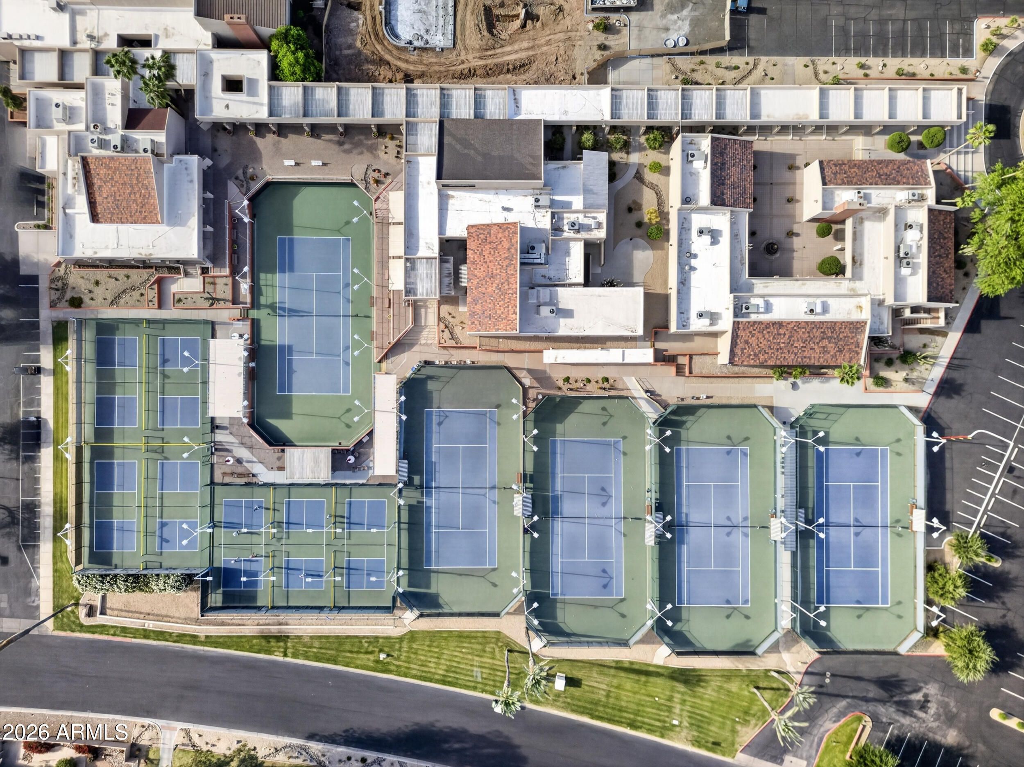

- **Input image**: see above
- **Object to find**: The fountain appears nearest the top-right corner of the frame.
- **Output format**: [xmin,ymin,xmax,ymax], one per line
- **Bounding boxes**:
[762,238,781,257]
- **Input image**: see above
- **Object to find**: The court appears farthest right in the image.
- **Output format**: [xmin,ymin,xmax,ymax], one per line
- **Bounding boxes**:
[791,404,916,649]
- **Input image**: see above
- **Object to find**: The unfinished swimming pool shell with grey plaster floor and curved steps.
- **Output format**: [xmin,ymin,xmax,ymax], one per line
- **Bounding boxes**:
[384,0,454,47]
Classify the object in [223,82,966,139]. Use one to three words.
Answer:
building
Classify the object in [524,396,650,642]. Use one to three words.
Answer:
tennis court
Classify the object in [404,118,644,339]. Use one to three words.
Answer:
building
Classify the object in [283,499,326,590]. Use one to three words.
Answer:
sports court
